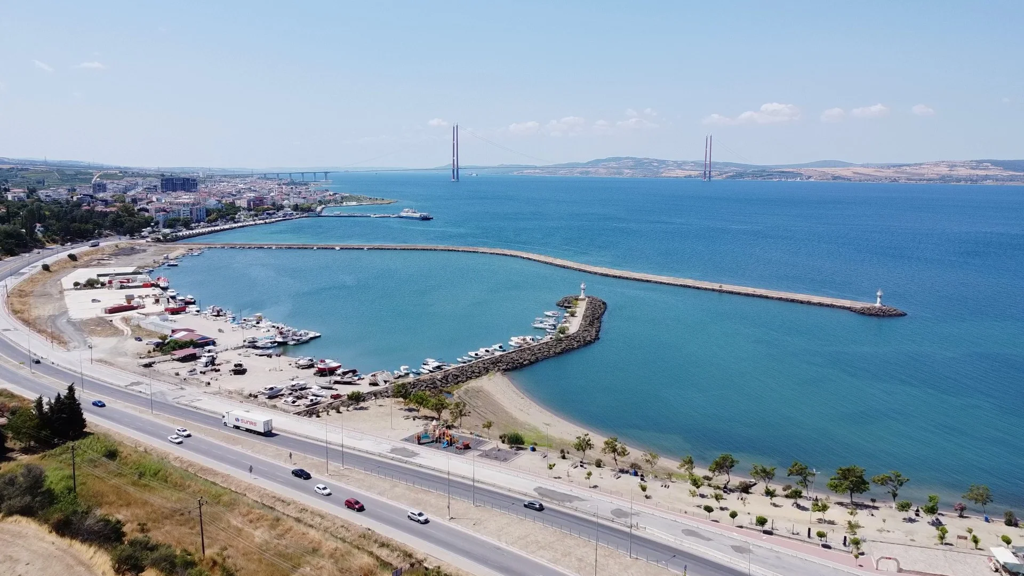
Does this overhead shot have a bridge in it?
Yes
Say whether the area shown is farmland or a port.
port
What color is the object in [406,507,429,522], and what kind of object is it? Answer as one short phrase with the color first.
white car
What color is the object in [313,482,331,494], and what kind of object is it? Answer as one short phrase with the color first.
white vehicle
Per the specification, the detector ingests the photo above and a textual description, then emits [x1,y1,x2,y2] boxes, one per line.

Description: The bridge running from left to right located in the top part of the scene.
[186,122,794,181]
